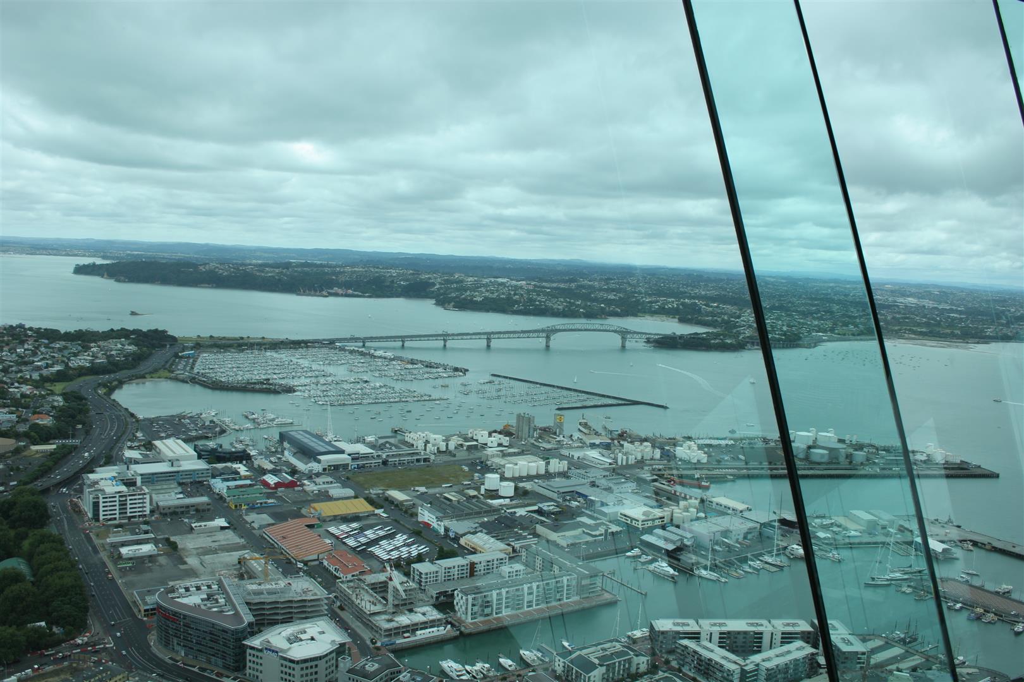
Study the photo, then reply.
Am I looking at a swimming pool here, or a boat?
boat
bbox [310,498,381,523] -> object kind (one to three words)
building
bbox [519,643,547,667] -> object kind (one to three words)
boat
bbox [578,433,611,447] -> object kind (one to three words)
shed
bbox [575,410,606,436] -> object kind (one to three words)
ship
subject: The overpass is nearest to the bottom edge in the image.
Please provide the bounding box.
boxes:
[6,429,124,513]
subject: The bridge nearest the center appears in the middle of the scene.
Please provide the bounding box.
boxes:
[296,322,730,348]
